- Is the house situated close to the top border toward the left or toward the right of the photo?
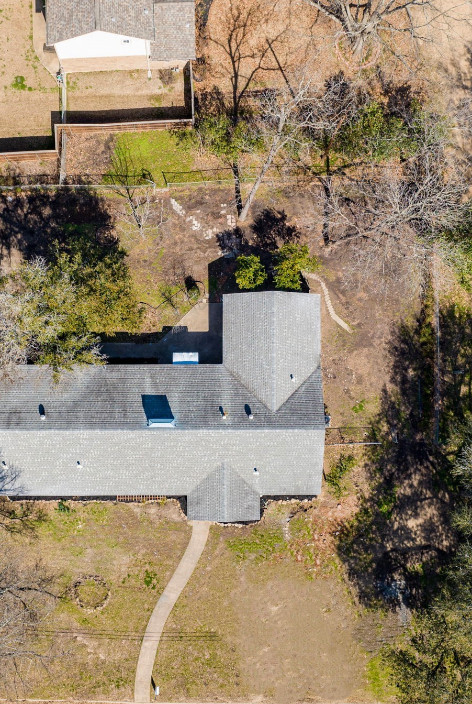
left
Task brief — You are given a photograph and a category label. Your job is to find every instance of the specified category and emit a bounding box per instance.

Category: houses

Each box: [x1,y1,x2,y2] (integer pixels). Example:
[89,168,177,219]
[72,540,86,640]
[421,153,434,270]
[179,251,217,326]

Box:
[43,0,194,82]
[0,291,327,522]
